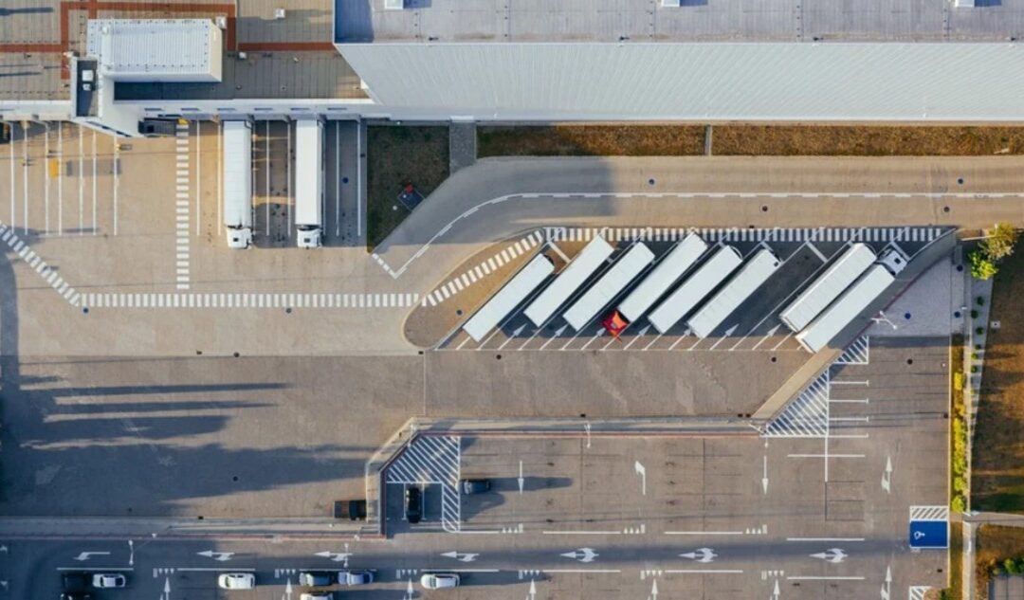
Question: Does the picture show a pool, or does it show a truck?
truck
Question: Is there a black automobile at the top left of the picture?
No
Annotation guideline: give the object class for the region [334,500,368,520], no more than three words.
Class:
vehicle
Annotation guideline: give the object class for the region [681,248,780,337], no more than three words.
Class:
trailer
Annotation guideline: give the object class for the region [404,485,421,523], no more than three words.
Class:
car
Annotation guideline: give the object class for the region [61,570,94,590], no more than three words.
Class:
vehicle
